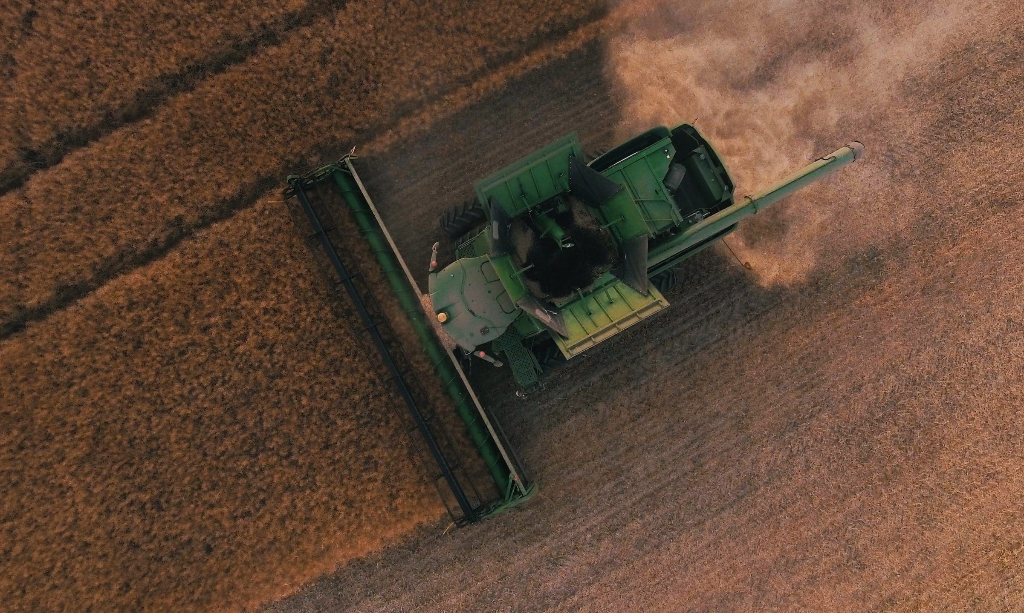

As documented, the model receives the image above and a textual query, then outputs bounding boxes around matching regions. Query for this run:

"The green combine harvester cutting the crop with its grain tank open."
[270,118,860,535]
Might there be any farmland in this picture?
Yes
